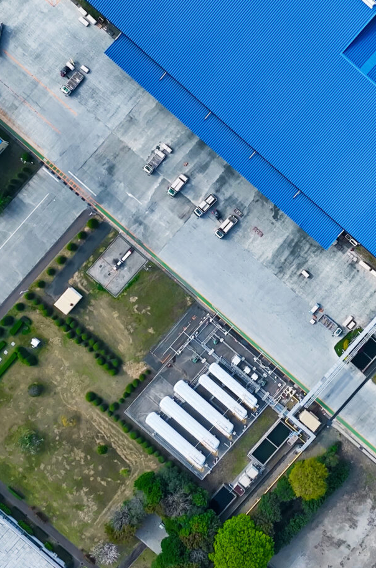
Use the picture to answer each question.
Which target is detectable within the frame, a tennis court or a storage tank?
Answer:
storage tank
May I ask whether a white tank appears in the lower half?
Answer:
Yes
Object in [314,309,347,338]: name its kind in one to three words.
truck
